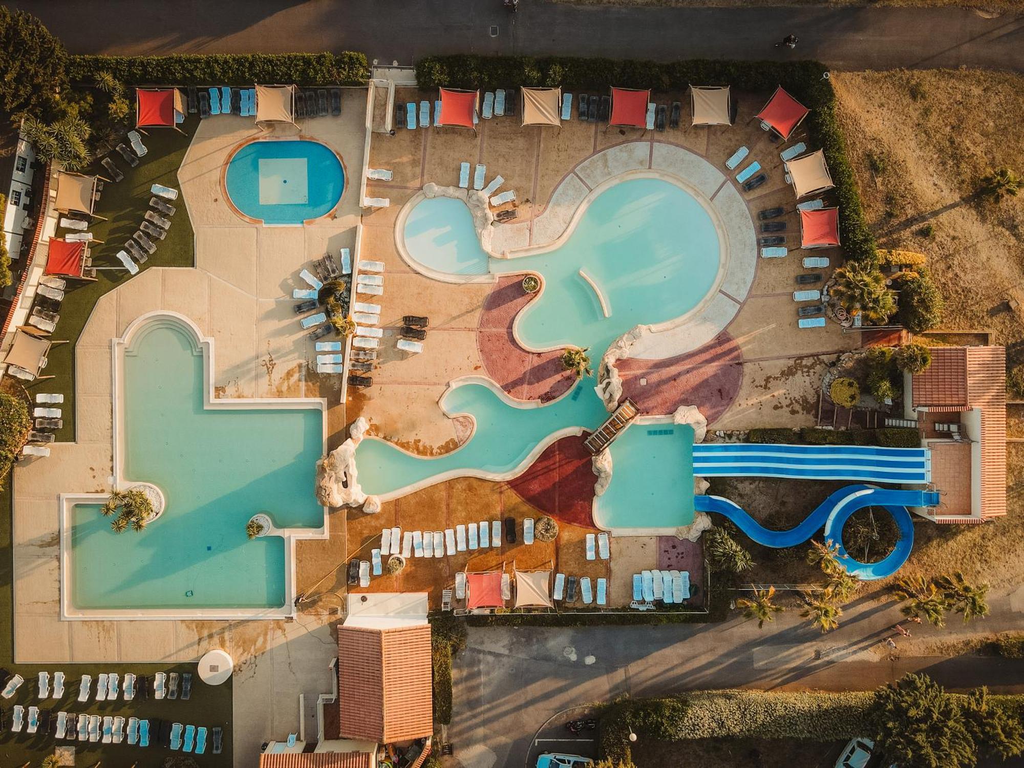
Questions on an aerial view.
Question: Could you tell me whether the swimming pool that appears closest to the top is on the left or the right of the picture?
left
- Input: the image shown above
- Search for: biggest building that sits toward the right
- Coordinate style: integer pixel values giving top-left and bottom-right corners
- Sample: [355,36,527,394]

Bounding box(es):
[890,346,1008,522]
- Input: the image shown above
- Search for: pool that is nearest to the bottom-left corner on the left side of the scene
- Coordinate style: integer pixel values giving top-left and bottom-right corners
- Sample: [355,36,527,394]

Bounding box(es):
[60,310,328,620]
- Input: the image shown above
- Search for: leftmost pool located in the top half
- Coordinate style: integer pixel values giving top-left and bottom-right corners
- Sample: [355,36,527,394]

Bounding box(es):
[222,136,348,225]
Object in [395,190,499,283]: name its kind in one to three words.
swimming pool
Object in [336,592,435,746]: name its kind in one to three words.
building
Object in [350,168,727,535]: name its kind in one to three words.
swimming pool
